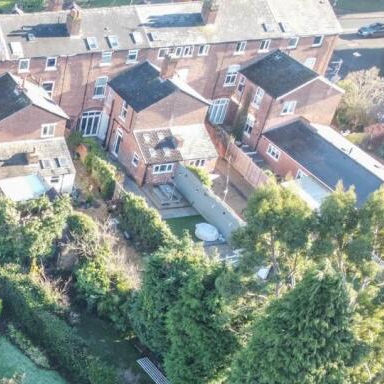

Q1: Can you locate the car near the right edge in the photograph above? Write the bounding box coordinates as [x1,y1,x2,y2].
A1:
[358,21,384,39]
